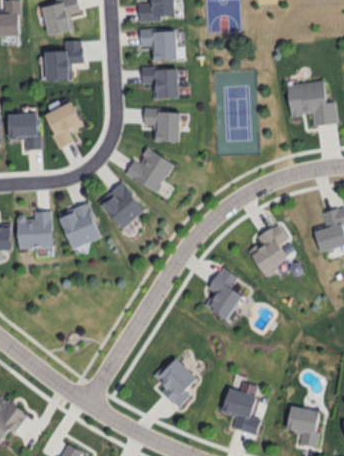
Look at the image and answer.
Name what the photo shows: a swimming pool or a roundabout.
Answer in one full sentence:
Looking from above, you can make out a swimming pool.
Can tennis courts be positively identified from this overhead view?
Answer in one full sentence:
Yes, there's a tennis court here.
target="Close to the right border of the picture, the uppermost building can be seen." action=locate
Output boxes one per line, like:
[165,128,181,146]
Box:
[288,82,339,127]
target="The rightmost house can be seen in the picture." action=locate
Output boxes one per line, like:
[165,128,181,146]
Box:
[314,206,344,254]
